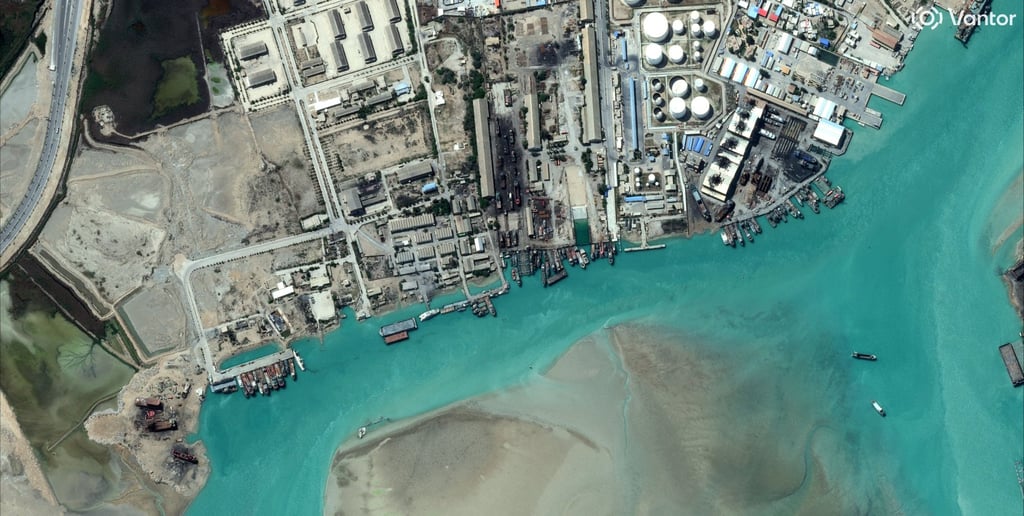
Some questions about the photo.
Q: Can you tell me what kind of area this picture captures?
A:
port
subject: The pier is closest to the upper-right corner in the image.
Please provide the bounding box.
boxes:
[871,83,906,105]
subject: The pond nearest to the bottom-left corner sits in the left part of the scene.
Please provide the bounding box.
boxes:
[17,258,103,335]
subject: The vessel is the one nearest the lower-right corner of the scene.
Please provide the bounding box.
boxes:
[1000,344,1024,384]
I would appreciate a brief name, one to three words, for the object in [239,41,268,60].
building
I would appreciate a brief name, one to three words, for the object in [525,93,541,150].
shed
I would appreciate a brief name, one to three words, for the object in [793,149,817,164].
ship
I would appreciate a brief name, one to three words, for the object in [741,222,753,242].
boat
